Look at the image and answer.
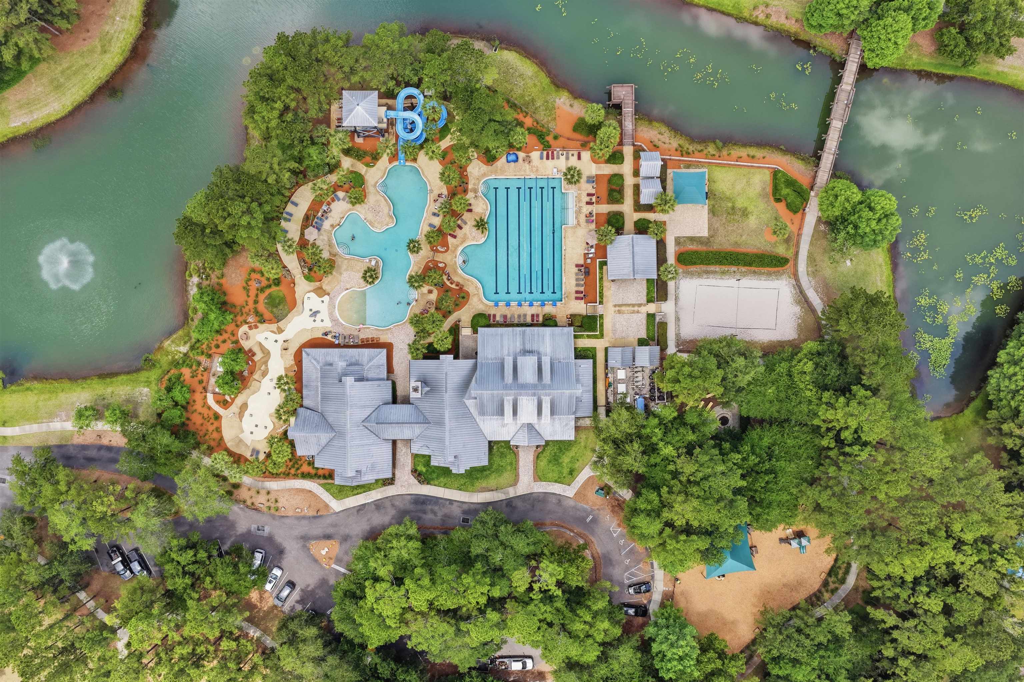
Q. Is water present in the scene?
Yes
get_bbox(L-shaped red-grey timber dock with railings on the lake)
[608,82,638,146]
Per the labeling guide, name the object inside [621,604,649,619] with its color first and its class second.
black car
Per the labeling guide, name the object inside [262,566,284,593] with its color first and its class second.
white car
